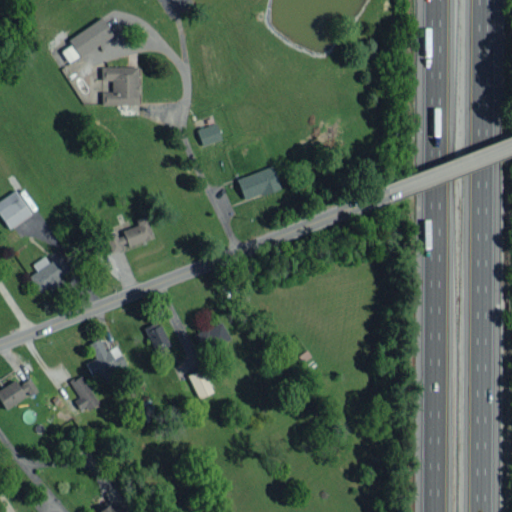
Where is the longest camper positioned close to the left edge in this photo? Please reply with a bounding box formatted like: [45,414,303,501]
[20,190,38,212]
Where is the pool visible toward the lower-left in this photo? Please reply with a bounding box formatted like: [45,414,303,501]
[22,410,38,424]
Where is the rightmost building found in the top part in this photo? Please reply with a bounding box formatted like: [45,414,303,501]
[240,168,282,200]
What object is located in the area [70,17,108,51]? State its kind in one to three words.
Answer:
building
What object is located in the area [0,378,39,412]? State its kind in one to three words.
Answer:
house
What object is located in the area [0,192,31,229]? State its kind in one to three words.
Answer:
building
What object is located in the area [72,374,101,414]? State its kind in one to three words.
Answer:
house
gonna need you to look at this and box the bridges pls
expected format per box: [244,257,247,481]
[382,138,512,202]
